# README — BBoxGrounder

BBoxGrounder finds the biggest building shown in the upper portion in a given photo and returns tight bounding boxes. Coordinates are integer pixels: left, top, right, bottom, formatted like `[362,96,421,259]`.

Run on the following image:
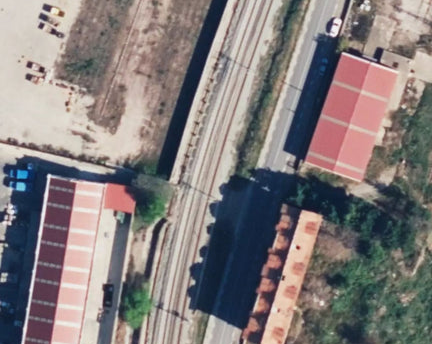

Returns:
[304,52,397,183]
